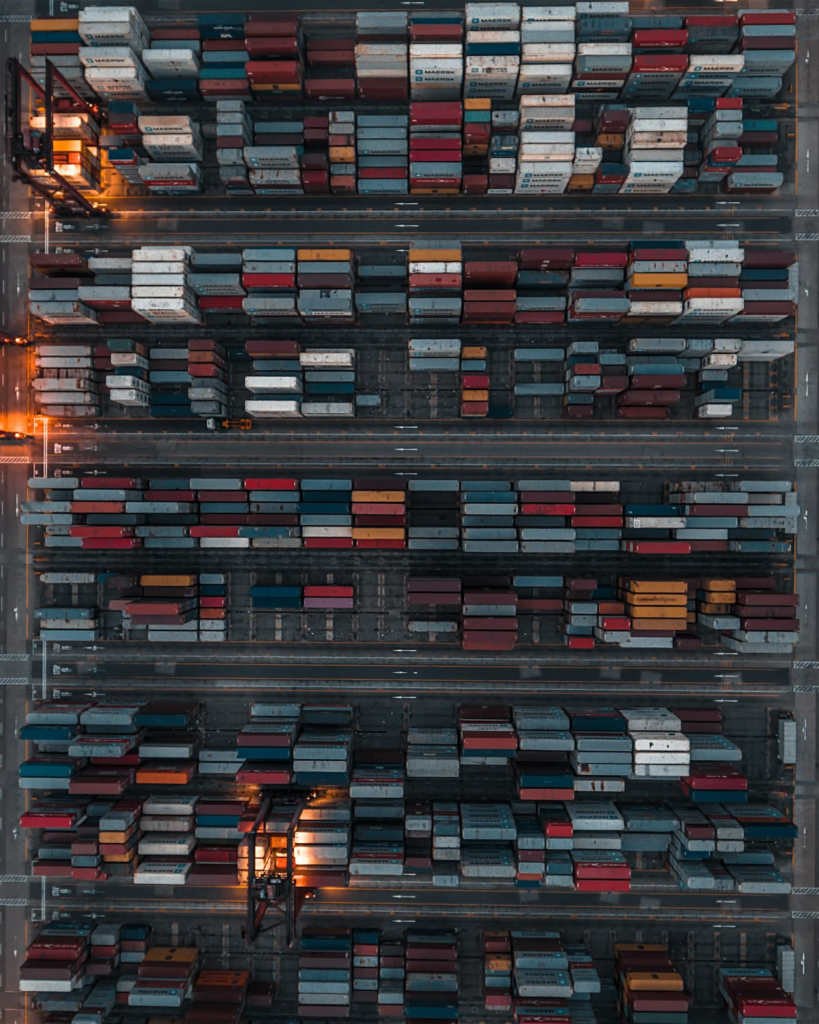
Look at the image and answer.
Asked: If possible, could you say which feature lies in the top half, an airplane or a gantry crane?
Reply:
gantry crane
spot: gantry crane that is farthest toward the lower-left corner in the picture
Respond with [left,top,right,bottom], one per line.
[242,781,312,938]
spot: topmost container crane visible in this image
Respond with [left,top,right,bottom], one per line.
[7,57,103,221]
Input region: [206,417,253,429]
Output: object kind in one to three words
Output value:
vehicle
